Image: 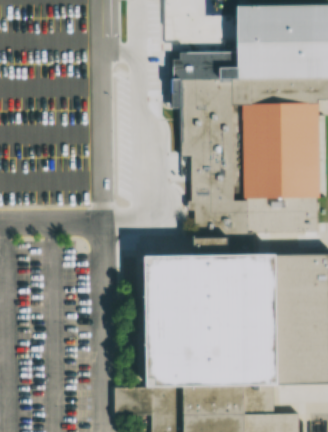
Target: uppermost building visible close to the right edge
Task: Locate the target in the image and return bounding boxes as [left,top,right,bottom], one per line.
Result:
[237,4,328,78]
